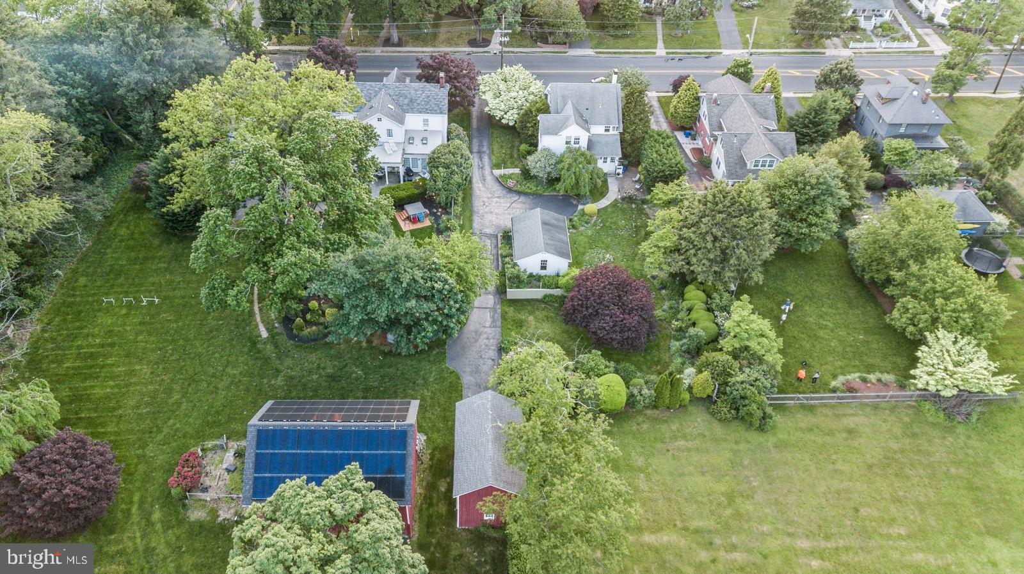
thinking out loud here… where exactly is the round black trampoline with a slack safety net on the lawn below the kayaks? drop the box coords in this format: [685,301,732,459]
[964,232,1012,276]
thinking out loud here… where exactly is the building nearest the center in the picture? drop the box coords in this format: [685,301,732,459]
[511,205,571,281]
